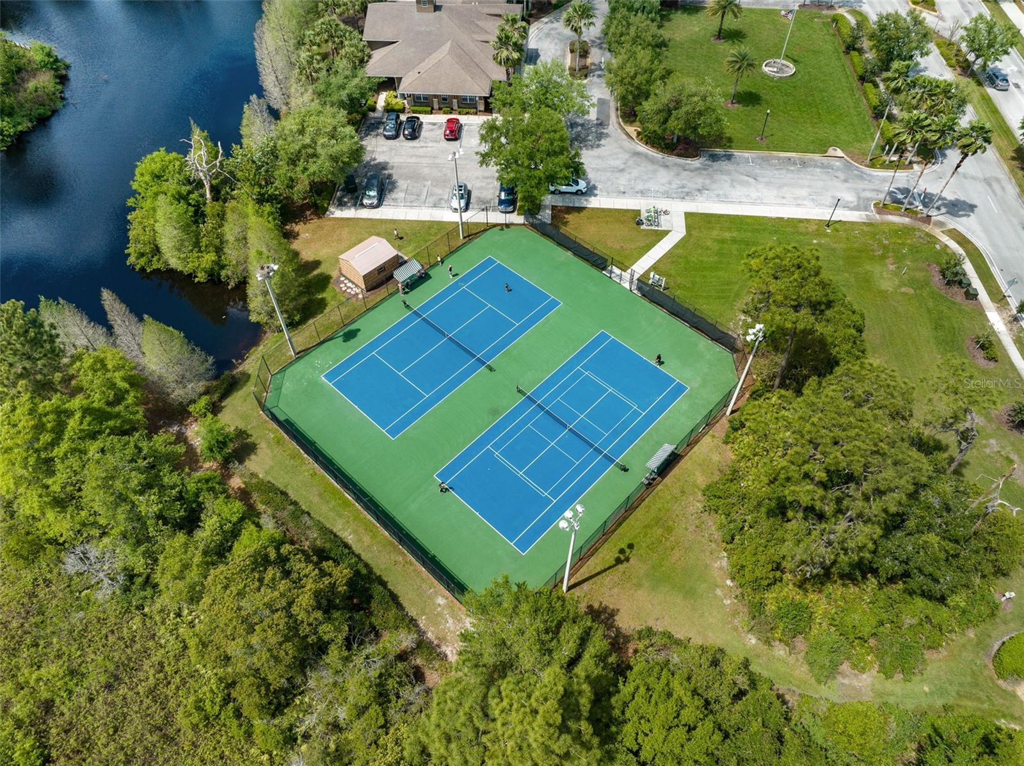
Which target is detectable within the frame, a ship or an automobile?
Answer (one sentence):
The image shows an automobile.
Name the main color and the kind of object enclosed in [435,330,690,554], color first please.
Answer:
blue tennis court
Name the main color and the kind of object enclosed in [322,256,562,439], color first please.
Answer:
blue tennis court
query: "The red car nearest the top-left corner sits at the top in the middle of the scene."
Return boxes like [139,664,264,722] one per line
[444,114,460,136]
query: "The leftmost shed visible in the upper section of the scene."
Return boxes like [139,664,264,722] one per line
[331,232,400,292]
